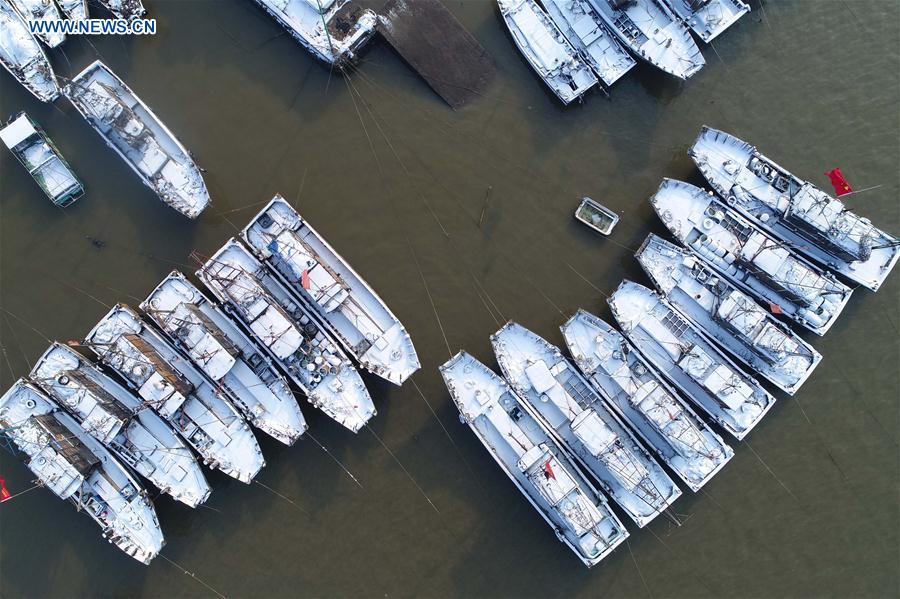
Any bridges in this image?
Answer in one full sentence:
No, this view has no bridge in it.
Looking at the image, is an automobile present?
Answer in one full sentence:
No, I can see no automobile in this picture.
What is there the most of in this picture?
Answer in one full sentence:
The largest share of the image is taken up by water.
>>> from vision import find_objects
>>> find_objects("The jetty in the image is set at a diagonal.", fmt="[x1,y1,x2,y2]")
[365,0,493,113]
